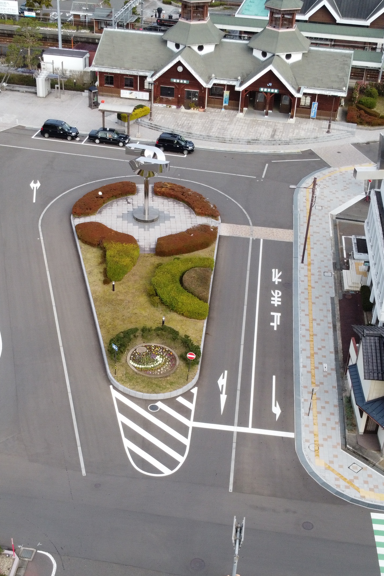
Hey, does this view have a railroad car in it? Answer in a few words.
Yes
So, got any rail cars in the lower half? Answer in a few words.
No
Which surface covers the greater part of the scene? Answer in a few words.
paved ground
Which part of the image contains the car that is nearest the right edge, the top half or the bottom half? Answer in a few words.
top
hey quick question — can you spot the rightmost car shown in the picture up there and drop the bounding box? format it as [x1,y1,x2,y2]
[155,129,197,152]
